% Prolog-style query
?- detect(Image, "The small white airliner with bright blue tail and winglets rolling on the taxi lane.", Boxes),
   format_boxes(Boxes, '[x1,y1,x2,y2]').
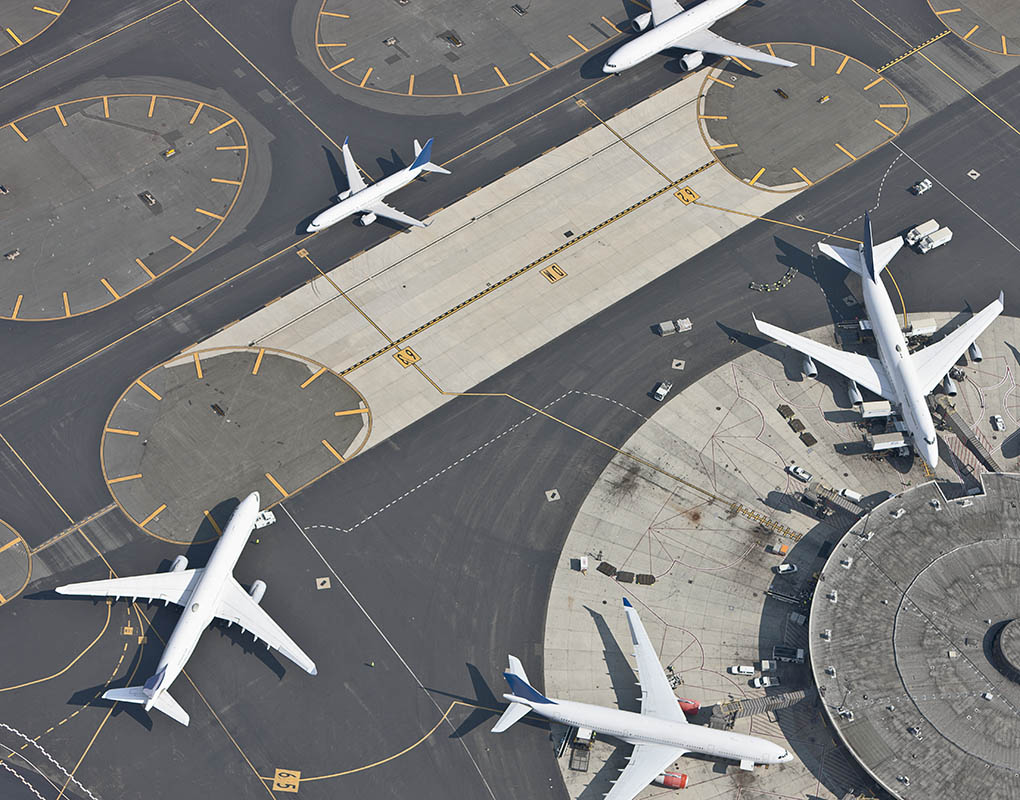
[308,137,448,234]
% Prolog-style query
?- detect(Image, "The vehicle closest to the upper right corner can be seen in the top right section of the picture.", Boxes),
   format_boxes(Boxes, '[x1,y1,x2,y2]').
[911,181,932,194]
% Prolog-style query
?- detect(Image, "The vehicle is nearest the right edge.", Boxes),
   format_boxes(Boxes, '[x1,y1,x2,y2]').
[993,414,1009,432]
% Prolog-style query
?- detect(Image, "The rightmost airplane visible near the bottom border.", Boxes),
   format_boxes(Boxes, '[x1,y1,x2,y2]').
[491,595,791,800]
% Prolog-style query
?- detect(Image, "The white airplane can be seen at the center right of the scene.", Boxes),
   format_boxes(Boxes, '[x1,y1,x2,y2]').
[755,208,1005,469]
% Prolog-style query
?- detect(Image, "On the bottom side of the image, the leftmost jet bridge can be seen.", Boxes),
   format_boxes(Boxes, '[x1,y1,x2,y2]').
[706,684,820,730]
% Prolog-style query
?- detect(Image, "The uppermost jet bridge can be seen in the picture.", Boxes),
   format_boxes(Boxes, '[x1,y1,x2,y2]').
[926,400,1006,473]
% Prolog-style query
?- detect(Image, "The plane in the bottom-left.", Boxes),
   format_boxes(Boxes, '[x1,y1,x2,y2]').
[56,489,318,727]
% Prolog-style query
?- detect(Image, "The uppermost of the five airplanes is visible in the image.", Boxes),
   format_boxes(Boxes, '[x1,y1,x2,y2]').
[601,0,796,79]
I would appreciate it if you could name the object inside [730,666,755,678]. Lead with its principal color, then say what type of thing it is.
white vehicle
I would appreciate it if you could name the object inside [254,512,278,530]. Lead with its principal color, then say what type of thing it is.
white work vehicle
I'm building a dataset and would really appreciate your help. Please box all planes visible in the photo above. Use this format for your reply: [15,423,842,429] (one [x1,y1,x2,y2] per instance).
[601,0,796,79]
[491,595,791,800]
[56,489,318,727]
[755,208,1005,469]
[308,137,448,234]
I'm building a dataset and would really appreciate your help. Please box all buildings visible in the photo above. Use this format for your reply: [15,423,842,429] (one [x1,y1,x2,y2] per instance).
[807,472,1020,800]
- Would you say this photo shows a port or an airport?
airport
